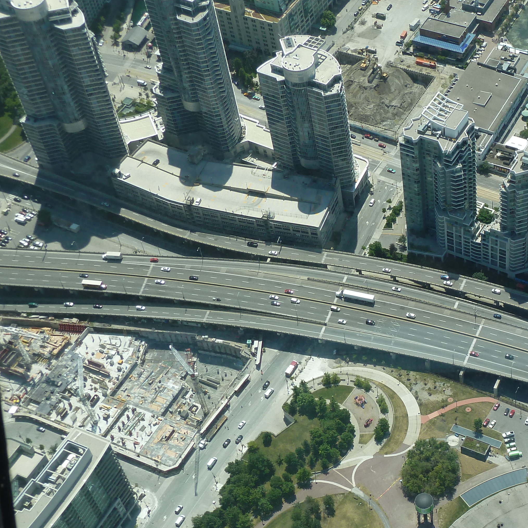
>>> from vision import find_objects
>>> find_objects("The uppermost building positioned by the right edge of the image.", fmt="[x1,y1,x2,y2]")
[439,0,509,35]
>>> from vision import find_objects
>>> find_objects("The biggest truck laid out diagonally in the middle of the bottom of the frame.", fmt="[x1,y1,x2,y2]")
[199,416,228,445]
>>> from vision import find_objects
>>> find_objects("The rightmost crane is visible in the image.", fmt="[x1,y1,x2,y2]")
[169,345,209,420]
